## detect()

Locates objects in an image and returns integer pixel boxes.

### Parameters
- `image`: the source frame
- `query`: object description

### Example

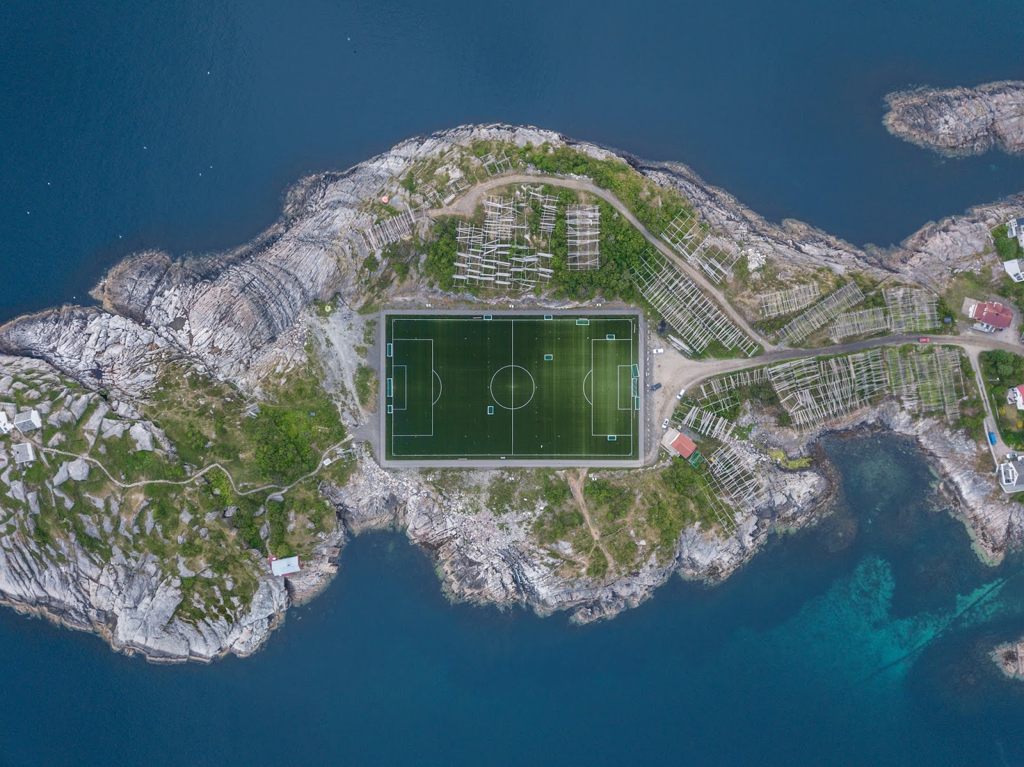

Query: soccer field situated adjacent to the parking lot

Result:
[380,310,644,467]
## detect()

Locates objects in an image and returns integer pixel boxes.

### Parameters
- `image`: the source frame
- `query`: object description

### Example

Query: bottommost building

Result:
[267,554,302,575]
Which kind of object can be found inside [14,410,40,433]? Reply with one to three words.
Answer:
house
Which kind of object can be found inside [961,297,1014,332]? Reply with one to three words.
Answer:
house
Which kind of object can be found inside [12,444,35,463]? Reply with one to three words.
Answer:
shed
